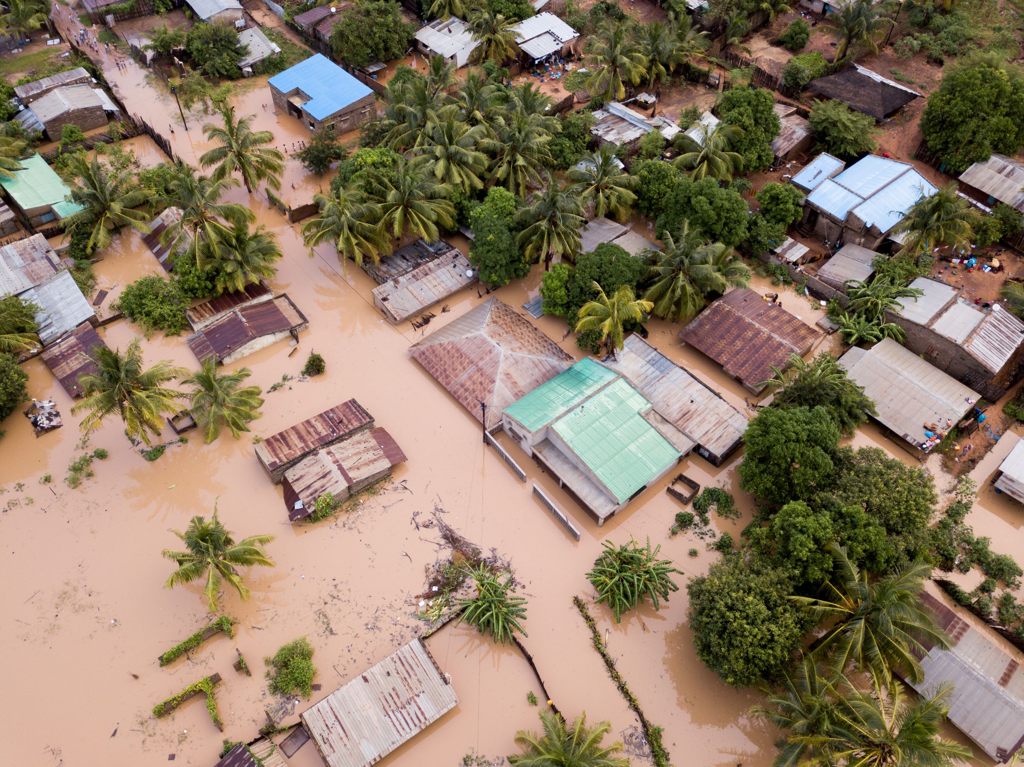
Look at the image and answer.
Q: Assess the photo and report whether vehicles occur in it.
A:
No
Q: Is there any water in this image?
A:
Yes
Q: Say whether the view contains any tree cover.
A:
Yes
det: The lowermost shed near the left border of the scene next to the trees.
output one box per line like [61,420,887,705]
[23,398,65,440]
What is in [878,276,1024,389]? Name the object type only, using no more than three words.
house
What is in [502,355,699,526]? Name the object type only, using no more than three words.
building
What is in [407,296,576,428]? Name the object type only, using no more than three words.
house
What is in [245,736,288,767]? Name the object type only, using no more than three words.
shed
